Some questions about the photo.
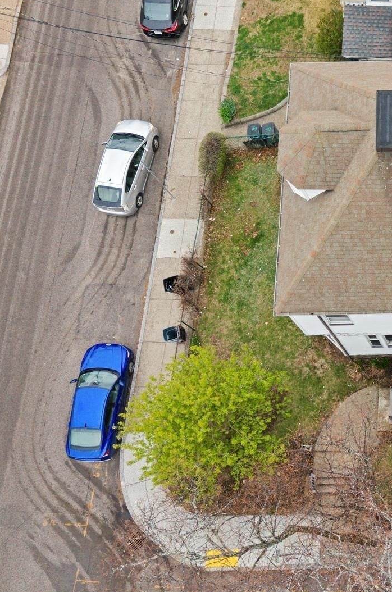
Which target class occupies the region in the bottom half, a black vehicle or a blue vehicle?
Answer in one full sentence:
You can see a blue vehicle in the bottom half.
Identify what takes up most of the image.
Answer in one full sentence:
The bulk of the photo consists of paved ground.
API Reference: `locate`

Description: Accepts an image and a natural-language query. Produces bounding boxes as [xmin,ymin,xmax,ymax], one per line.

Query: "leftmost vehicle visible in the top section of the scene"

[93,120,159,219]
